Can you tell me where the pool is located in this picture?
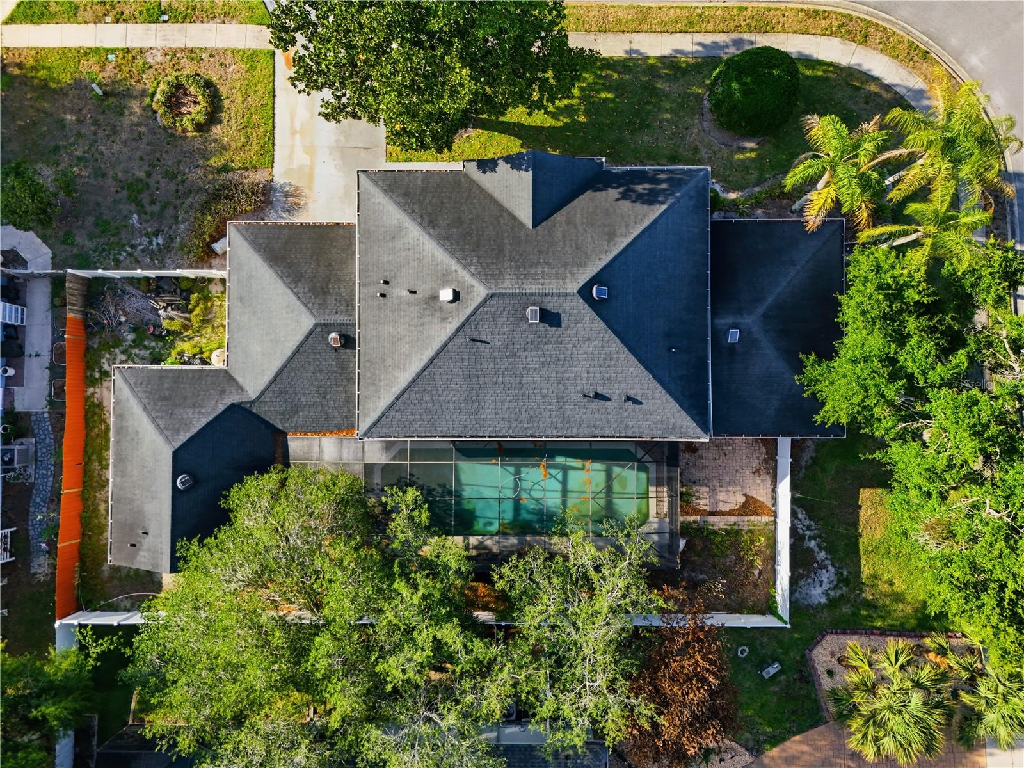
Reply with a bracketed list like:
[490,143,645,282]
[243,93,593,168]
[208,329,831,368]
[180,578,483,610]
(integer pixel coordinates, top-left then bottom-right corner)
[374,442,656,542]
